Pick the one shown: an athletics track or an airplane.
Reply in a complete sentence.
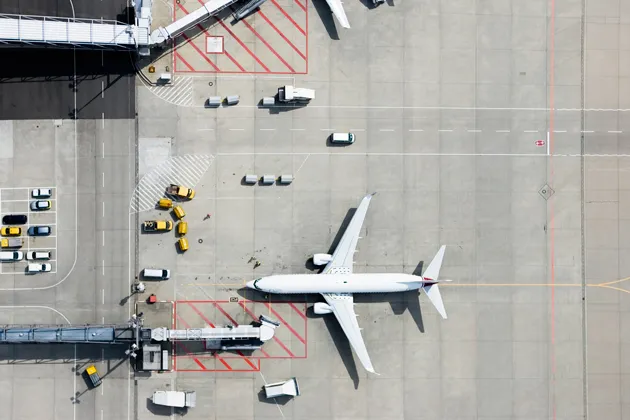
Visible in the photo is an airplane.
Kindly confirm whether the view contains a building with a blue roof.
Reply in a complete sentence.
No, there isn't any building with a blue roof down there.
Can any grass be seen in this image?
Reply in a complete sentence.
No, no grass is visible.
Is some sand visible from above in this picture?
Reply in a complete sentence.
No, the scene doesn't show any sand.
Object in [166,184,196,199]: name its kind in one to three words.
vehicle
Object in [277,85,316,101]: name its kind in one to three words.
vehicle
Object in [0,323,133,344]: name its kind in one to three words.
jet bridge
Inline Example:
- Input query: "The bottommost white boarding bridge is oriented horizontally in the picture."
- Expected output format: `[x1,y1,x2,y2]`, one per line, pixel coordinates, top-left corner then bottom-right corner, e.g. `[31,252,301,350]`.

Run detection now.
[135,317,279,351]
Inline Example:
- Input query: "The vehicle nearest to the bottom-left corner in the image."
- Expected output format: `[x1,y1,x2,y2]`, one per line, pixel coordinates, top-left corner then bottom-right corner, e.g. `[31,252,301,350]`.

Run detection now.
[85,365,104,389]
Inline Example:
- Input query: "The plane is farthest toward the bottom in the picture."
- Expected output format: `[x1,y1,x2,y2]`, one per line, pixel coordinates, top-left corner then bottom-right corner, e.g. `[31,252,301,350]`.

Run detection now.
[246,192,449,375]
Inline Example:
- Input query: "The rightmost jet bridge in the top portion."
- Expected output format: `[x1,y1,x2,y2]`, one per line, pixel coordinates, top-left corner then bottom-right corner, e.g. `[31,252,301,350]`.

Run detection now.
[148,0,239,46]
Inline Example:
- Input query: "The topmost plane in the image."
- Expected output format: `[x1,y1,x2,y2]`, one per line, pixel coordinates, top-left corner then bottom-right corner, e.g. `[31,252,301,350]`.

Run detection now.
[326,0,349,28]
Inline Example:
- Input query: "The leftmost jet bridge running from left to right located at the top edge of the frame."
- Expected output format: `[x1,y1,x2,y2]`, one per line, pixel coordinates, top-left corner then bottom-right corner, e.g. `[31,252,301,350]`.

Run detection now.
[0,14,132,49]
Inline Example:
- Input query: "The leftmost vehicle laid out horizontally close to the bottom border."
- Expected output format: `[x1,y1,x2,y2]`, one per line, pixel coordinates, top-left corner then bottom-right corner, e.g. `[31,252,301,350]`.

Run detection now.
[152,391,195,408]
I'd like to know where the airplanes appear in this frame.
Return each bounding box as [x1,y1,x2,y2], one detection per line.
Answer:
[246,192,449,375]
[326,0,349,28]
